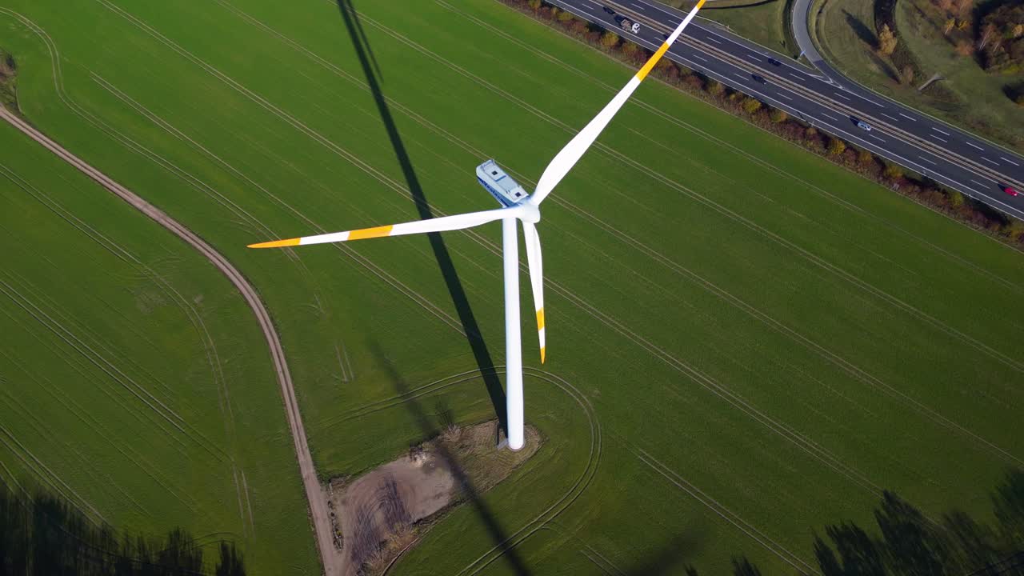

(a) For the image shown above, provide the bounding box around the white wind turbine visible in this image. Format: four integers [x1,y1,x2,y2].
[251,0,708,449]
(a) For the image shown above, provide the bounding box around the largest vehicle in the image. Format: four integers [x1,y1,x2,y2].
[622,20,642,35]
